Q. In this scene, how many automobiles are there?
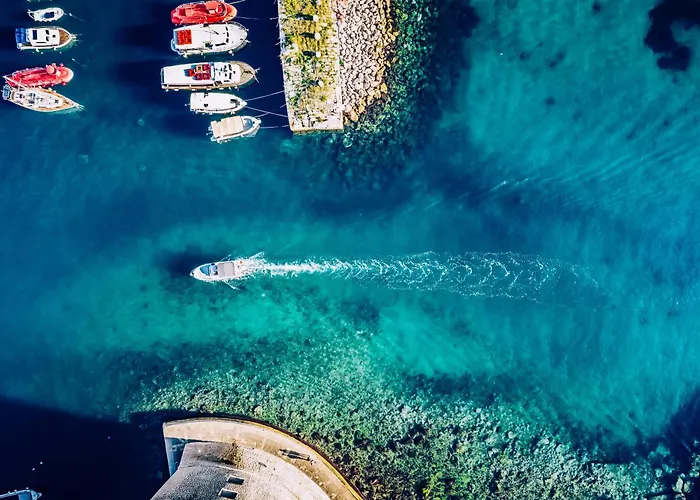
zero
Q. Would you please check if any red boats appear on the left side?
Yes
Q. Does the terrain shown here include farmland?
No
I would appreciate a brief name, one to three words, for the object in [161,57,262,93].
boat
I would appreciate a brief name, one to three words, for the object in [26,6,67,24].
boat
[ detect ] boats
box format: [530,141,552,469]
[5,66,79,90]
[15,25,80,52]
[206,114,264,145]
[26,6,67,24]
[187,260,252,281]
[161,57,262,93]
[170,19,252,58]
[0,80,87,114]
[185,92,250,115]
[171,0,239,26]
